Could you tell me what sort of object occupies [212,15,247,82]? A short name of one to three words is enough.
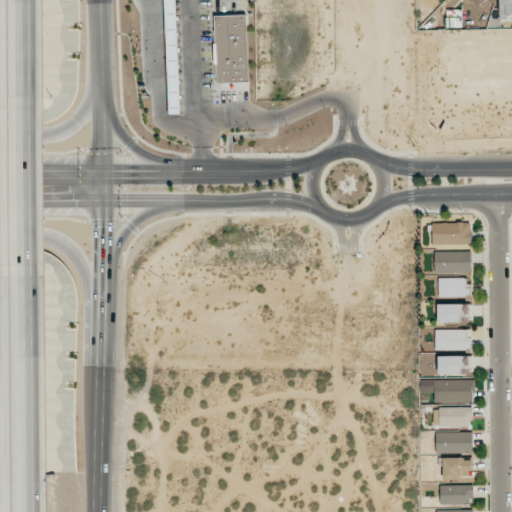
house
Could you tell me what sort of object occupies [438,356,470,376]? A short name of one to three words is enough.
house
